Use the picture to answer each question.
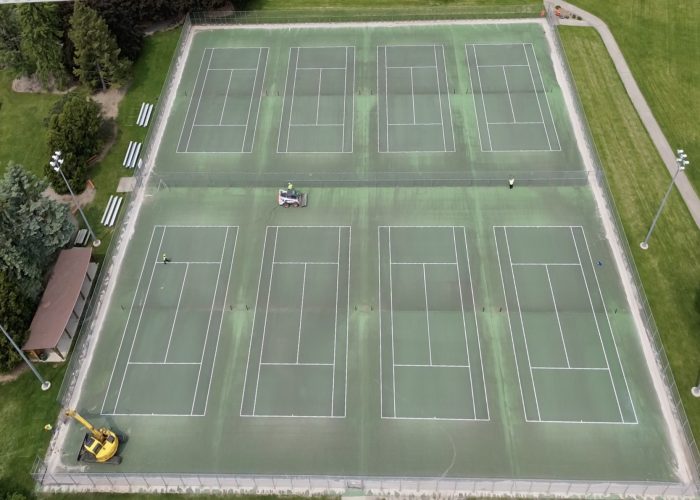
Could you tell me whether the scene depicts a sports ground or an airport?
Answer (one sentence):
This looks like a sports ground.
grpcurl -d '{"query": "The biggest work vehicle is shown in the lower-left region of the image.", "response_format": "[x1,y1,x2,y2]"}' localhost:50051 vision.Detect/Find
[64,410,123,465]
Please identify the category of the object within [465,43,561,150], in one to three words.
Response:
tennis court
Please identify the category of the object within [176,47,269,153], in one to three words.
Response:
tennis court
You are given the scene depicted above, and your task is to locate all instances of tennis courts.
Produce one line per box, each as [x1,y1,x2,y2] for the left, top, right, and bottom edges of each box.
[465,43,561,150]
[240,226,358,418]
[371,44,457,151]
[494,226,638,423]
[276,46,360,152]
[176,47,269,153]
[101,225,238,416]
[371,226,489,421]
